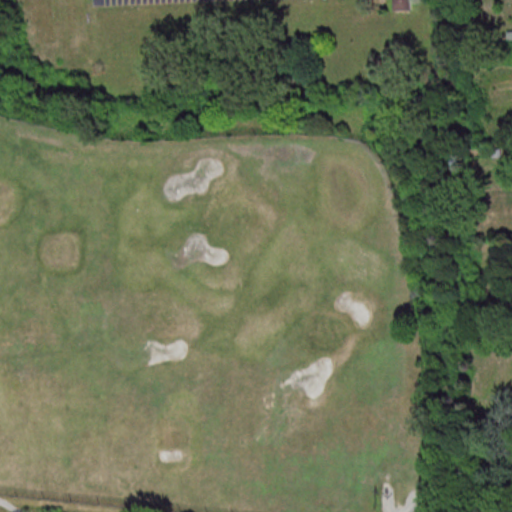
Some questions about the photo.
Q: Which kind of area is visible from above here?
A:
golf course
